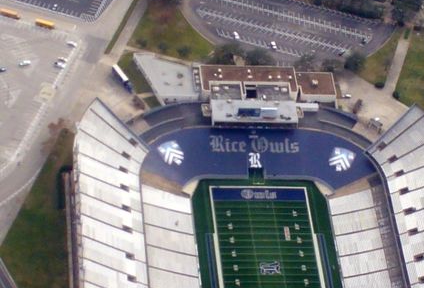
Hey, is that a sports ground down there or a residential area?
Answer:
sports ground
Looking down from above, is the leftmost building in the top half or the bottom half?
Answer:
top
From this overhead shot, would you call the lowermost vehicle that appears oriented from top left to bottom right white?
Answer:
Yes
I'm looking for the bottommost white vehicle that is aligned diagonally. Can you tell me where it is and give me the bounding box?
[112,61,131,86]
